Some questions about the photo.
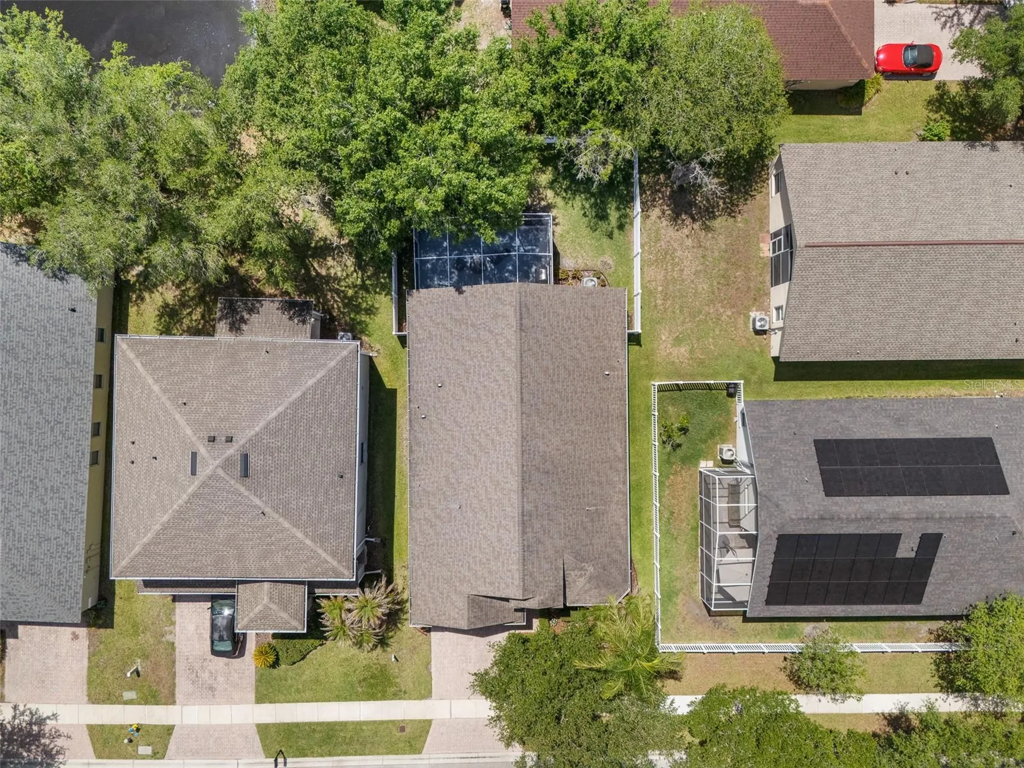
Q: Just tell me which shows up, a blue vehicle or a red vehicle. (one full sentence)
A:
There is a red vehicle in the scene.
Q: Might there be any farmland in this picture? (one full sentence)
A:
No, farmland can't be seen anywhere here.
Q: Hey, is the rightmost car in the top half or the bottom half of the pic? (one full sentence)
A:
The rightmost car sits in the top half of the picture.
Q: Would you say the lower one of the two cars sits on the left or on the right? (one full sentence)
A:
The lower one of the two cars appears in the left half of the scene.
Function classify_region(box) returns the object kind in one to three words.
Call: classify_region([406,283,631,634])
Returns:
house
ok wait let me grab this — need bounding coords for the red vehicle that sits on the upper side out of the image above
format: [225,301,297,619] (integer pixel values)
[875,40,942,78]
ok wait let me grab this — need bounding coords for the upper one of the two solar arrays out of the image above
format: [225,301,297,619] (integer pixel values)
[810,439,1008,496]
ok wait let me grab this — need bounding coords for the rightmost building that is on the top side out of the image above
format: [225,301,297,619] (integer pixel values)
[771,142,1024,361]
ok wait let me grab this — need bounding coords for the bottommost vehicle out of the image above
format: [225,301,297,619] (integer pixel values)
[205,594,244,659]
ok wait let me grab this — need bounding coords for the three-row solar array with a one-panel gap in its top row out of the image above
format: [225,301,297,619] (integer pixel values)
[766,534,941,605]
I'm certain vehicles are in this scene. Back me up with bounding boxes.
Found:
[875,40,942,78]
[205,594,244,659]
